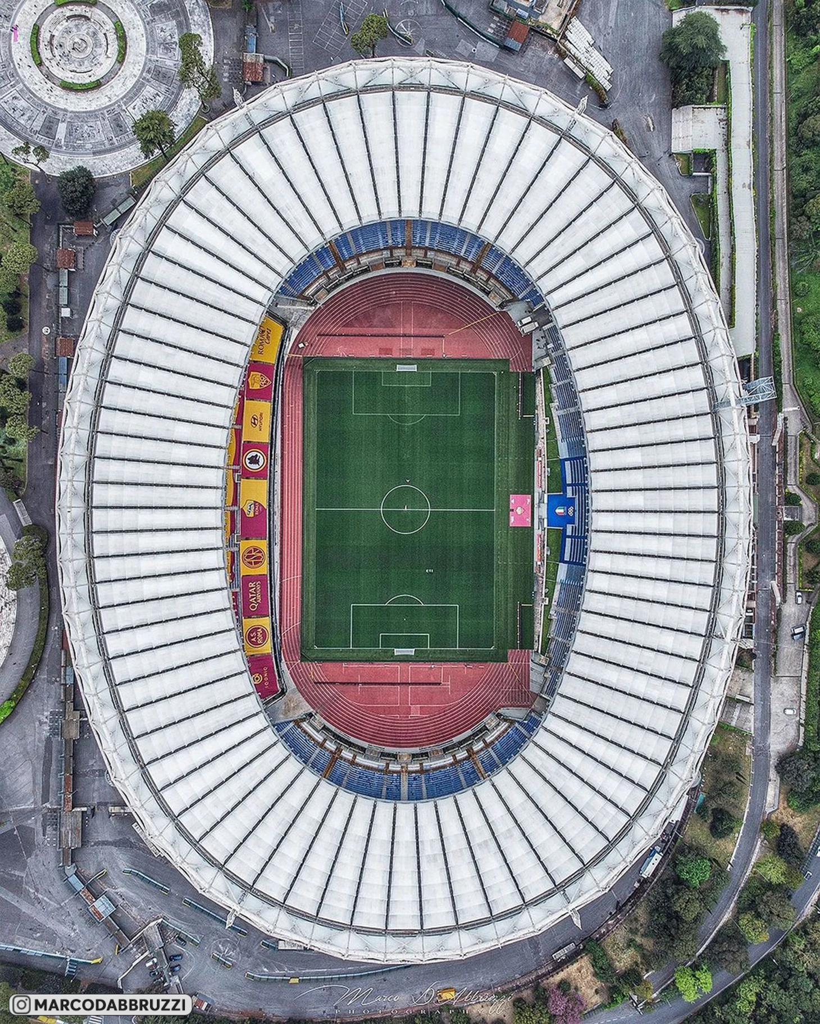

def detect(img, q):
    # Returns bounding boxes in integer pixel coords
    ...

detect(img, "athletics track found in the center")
[281,273,537,748]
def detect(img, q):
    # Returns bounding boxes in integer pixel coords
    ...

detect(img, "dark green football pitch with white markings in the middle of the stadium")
[302,358,534,663]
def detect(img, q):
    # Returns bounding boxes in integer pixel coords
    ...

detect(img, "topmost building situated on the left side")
[242,53,265,86]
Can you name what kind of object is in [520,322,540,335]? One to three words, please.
vehicle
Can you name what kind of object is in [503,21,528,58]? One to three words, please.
building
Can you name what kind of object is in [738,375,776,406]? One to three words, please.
bridge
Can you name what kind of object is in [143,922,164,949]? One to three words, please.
building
